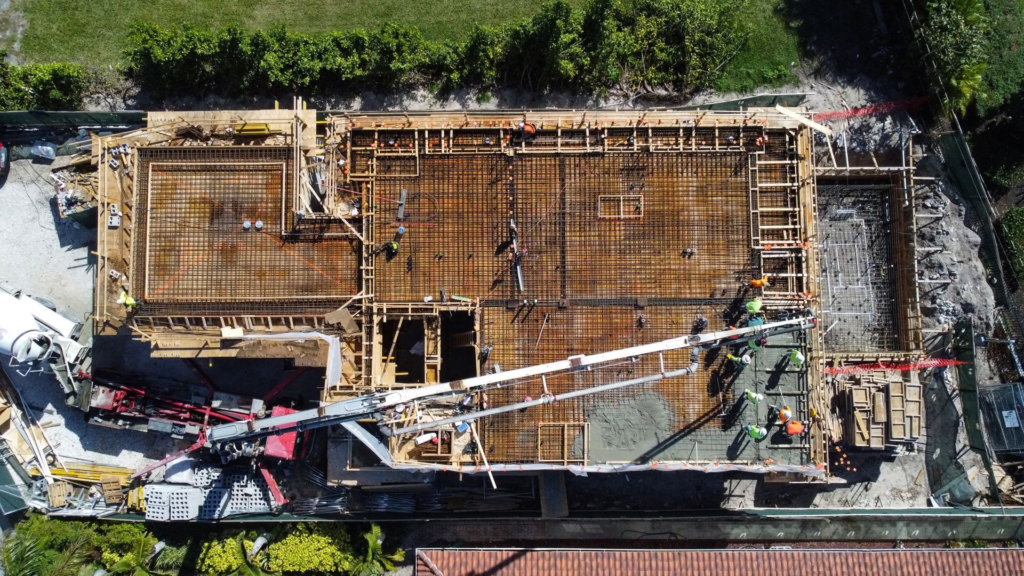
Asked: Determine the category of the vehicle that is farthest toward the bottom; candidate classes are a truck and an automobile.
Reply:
truck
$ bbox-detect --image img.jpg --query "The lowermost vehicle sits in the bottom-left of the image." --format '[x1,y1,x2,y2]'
[65,358,322,506]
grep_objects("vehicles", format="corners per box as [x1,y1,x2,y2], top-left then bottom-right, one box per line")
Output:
[65,358,322,506]
[0,142,12,181]
[0,277,95,398]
